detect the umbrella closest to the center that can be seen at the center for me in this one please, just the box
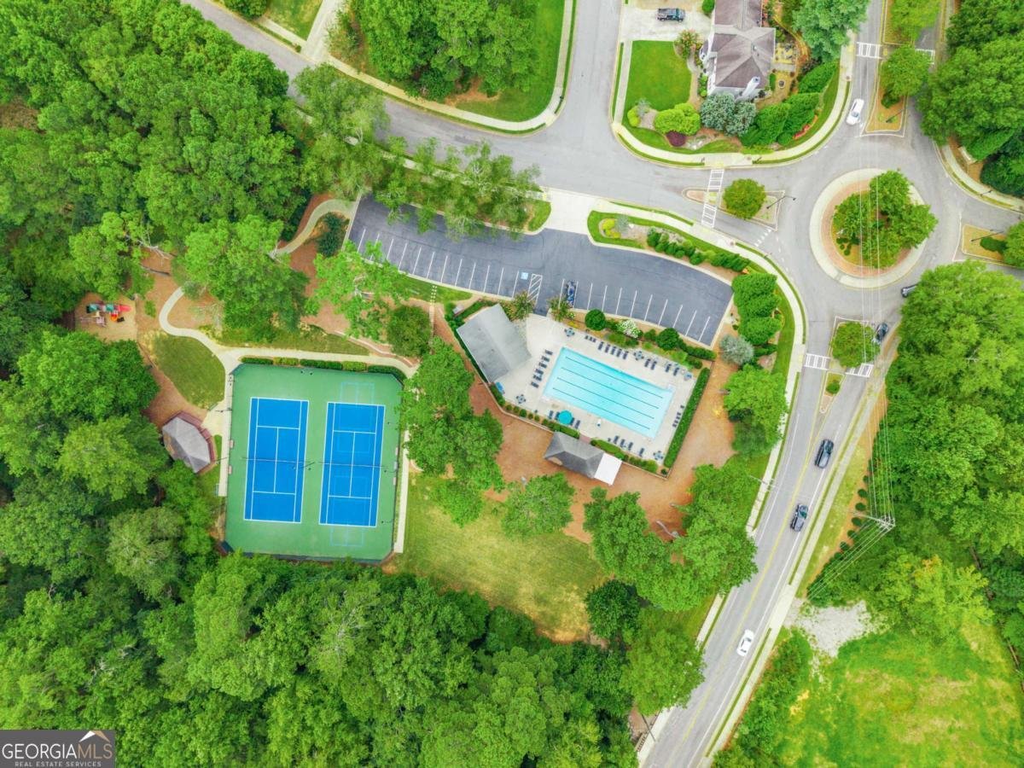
[560,411,573,424]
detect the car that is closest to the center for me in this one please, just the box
[564,280,576,306]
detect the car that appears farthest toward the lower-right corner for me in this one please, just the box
[736,628,753,655]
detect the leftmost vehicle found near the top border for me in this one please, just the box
[655,9,684,24]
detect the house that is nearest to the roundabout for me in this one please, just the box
[698,0,776,103]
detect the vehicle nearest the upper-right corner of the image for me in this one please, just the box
[843,99,863,126]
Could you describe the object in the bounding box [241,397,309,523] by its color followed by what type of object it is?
blue tennis court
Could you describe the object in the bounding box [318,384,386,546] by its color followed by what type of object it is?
blue tennis court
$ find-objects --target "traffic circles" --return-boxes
[809,167,928,288]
